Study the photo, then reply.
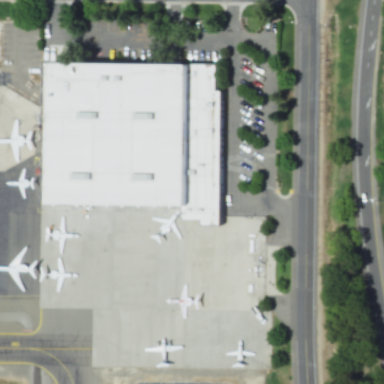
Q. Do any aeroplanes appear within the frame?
Yes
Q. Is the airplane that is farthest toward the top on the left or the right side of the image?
left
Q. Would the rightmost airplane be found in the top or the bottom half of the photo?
bottom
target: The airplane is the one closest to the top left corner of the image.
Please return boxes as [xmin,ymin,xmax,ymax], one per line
[0,121,34,163]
